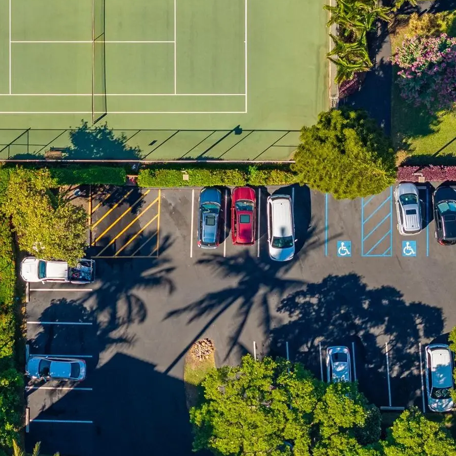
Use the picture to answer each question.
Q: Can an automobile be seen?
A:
Yes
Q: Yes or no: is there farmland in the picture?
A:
No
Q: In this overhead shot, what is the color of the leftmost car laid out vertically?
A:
blue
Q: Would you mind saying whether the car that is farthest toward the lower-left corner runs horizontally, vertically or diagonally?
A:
horizontally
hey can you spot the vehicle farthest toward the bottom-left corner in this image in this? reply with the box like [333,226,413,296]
[25,355,86,382]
